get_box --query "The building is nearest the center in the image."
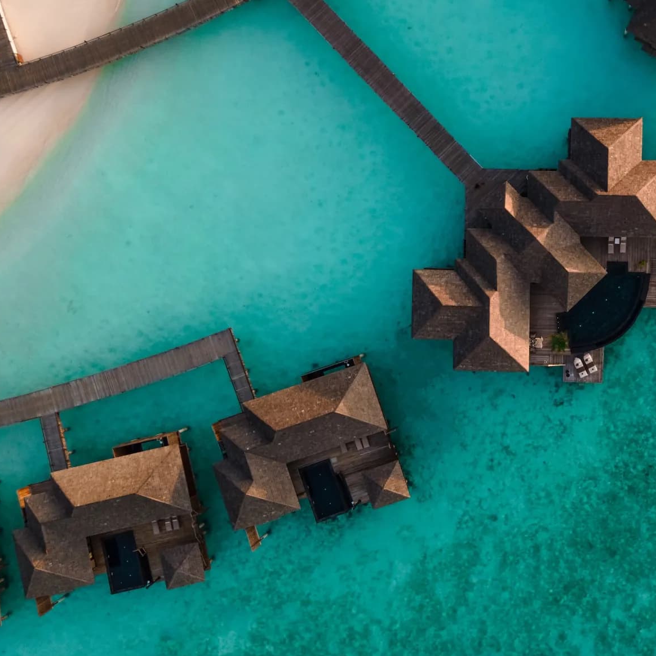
[210,351,411,551]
